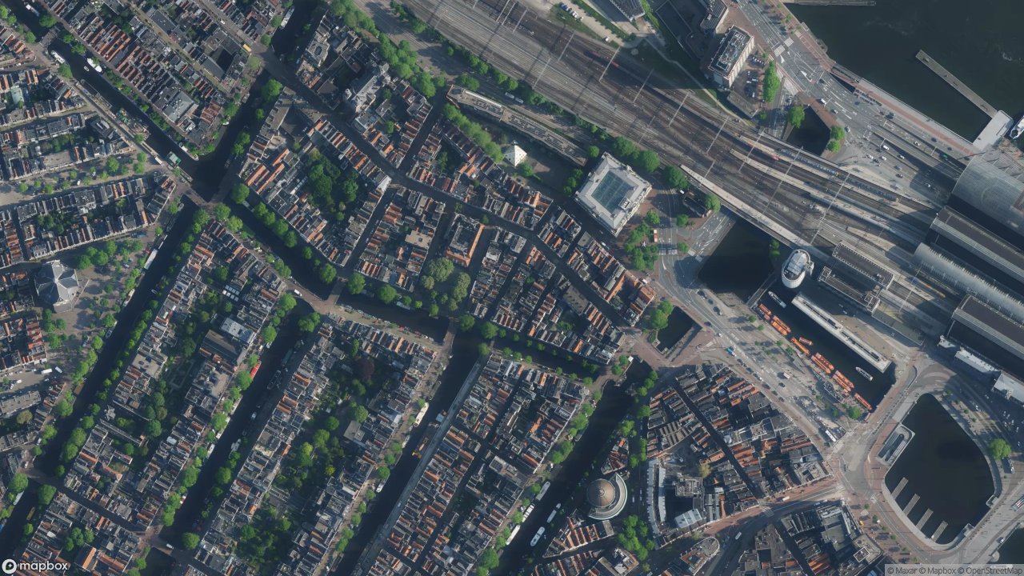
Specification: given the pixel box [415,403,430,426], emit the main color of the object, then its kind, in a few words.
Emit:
white boat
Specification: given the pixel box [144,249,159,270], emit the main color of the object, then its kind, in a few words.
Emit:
white boat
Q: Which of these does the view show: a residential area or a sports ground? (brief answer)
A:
residential area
